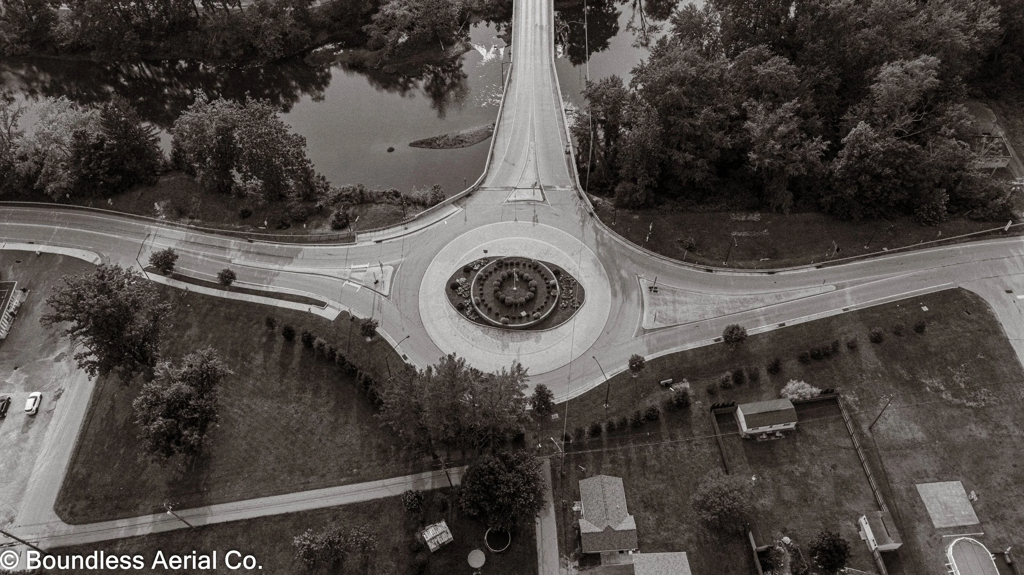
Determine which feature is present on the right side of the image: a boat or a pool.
pool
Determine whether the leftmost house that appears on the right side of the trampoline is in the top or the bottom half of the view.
bottom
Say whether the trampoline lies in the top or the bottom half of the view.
bottom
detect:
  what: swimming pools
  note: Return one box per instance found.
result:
[943,537,1002,575]
[483,526,512,558]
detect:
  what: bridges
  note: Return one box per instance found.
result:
[474,0,585,191]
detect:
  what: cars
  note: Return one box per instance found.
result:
[0,393,10,418]
[21,390,43,415]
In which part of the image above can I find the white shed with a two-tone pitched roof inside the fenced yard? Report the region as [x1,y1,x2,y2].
[736,399,798,434]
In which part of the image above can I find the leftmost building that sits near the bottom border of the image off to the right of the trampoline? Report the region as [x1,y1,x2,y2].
[578,474,638,559]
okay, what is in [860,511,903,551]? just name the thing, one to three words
shed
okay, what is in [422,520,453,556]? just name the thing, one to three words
shed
